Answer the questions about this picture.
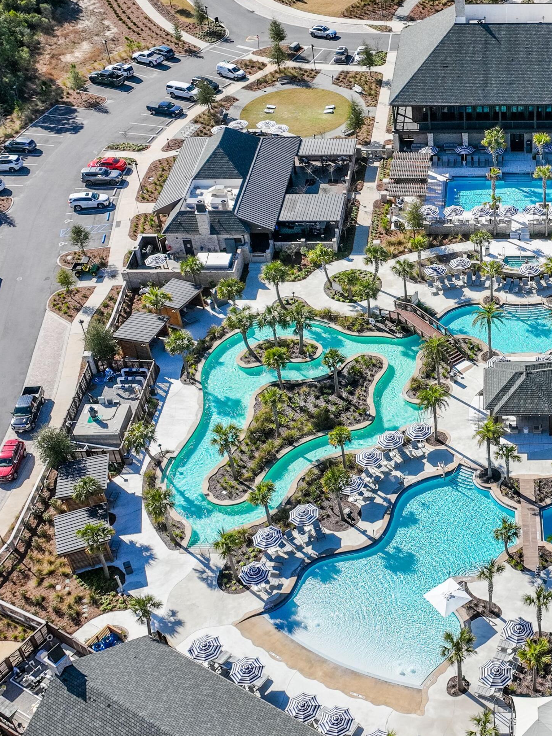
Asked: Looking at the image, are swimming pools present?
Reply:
Yes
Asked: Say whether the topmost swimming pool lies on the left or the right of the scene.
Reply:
right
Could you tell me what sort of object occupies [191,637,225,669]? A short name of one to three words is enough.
umbrella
